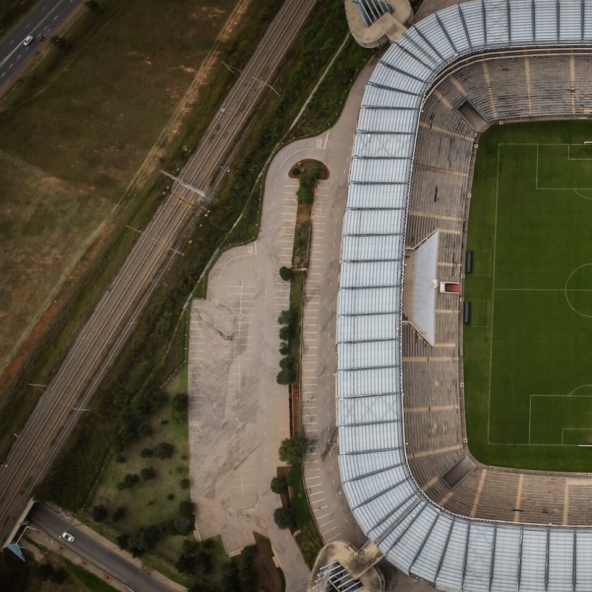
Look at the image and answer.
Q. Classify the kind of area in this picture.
sports ground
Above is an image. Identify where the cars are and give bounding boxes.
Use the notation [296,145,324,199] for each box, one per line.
[22,36,34,46]
[62,532,76,543]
